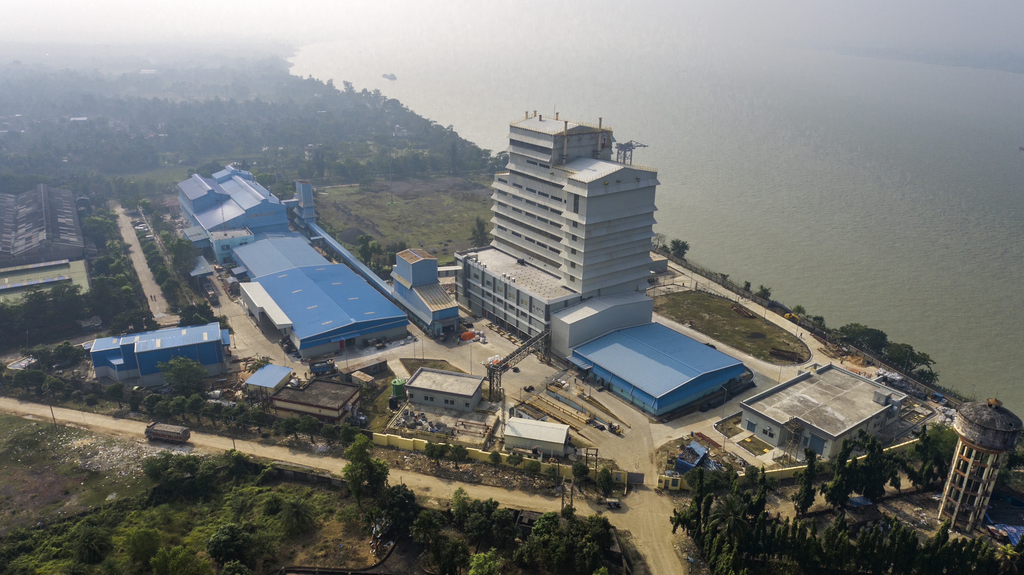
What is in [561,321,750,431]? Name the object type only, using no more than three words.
shed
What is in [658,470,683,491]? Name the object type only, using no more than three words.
building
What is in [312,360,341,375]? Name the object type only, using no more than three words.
vehicle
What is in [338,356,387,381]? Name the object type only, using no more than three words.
shipping container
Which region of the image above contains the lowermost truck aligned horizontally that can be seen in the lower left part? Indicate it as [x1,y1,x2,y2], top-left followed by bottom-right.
[145,423,191,444]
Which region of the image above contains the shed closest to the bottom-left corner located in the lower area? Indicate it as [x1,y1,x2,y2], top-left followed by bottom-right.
[9,356,40,377]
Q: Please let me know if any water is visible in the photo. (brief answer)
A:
Yes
